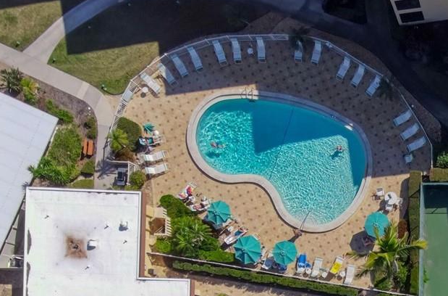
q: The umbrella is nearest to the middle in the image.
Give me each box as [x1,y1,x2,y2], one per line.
[207,202,233,227]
